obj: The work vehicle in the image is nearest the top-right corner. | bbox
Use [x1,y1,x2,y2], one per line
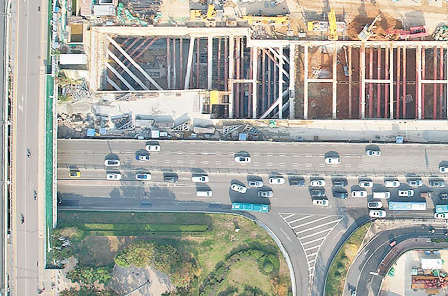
[354,14,381,43]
